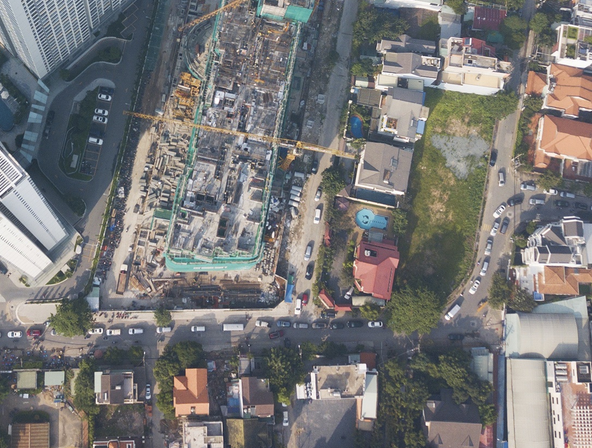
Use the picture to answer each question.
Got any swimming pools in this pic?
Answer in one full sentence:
Yes, a swimming pool can be made out from above.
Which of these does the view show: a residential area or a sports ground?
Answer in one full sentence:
What you see here is a residential area.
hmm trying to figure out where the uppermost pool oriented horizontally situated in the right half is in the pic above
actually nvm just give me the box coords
[352,190,399,209]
